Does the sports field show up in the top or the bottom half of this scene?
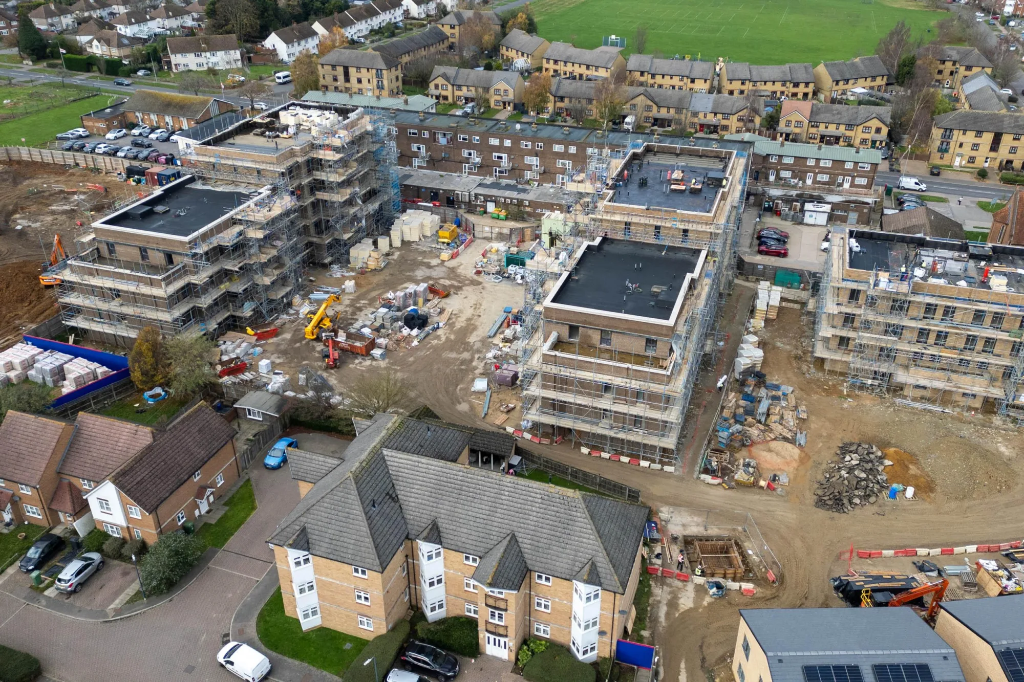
top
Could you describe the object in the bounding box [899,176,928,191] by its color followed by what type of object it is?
white vehicle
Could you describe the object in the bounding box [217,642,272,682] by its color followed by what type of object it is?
white van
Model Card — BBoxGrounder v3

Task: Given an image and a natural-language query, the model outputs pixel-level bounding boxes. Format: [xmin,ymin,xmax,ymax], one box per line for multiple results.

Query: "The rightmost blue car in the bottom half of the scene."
[266,437,300,466]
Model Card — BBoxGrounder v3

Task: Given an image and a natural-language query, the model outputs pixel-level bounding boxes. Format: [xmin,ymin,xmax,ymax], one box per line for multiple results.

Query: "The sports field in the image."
[535,0,942,79]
